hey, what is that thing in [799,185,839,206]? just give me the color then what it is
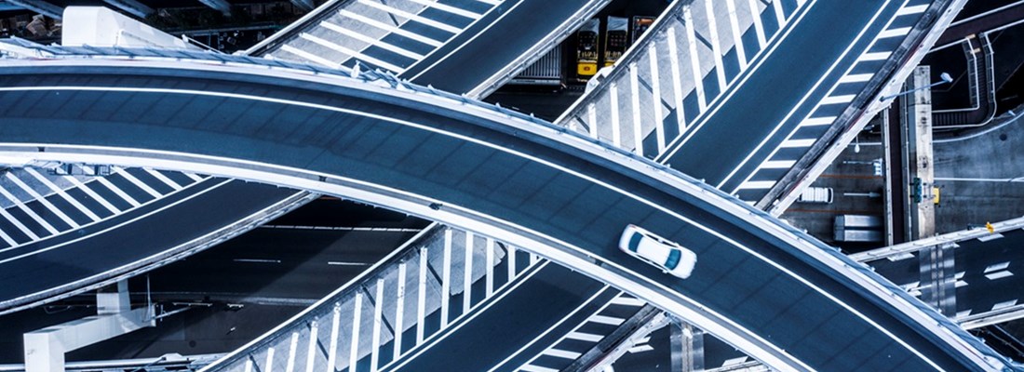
white vehicle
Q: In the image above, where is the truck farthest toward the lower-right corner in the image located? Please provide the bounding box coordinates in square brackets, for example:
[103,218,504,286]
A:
[830,216,886,242]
